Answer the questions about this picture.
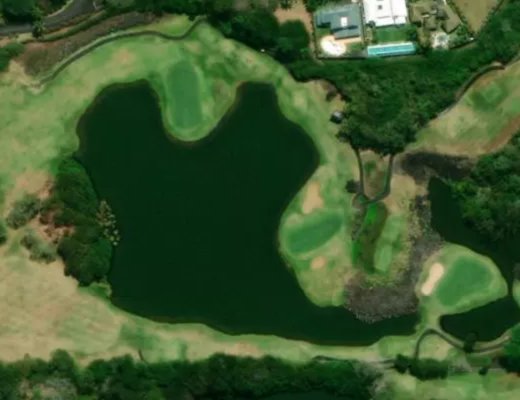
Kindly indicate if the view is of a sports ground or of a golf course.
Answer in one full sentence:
The picture captures a golf course.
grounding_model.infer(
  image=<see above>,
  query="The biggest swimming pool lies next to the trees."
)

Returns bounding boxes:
[367,43,415,57]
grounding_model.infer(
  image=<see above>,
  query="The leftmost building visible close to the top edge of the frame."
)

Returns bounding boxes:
[315,4,360,39]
